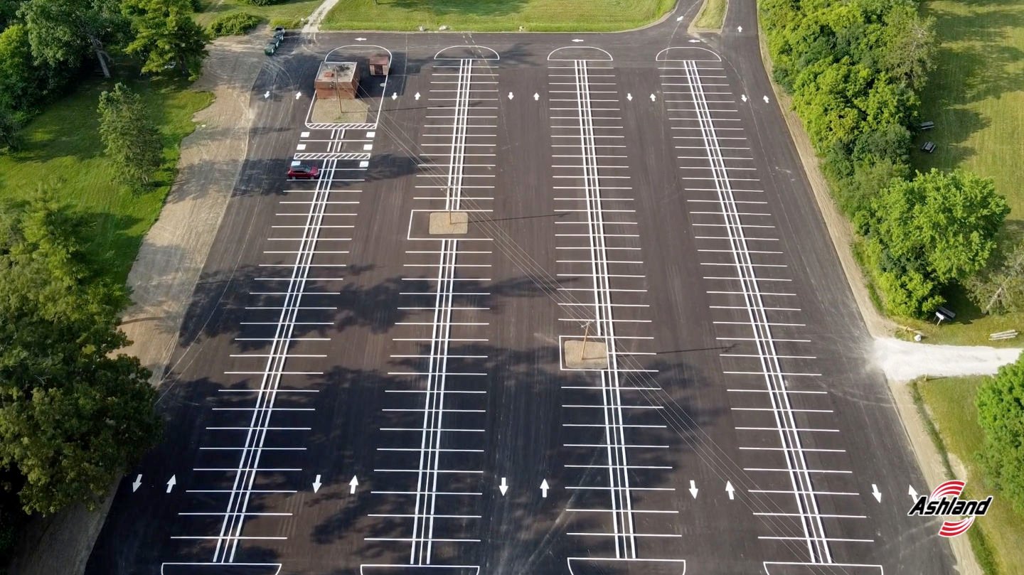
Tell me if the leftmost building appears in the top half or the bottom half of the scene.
top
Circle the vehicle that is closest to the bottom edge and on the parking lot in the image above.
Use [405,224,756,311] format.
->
[288,164,319,179]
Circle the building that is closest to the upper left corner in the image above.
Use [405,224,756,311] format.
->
[315,61,358,98]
